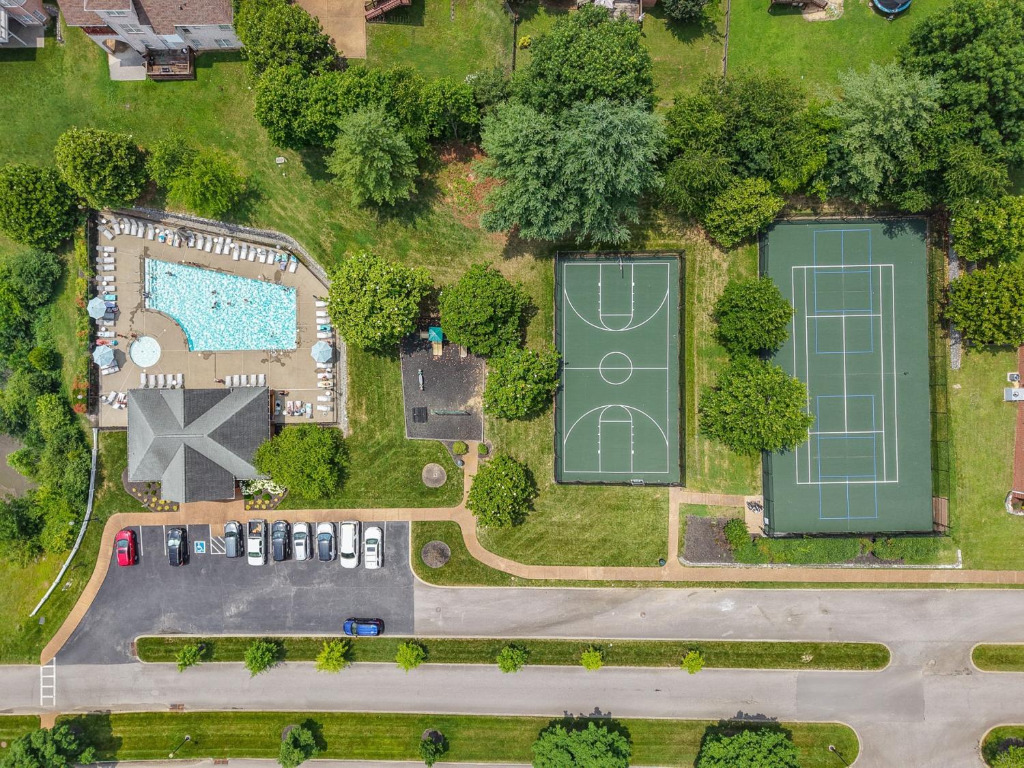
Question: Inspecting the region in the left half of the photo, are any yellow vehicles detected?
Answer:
No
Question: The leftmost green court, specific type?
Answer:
basketball court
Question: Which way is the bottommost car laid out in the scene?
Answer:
from side to side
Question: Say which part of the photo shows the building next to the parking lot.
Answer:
left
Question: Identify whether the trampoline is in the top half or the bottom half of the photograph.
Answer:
top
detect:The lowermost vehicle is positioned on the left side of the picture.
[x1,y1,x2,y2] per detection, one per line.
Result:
[344,616,386,638]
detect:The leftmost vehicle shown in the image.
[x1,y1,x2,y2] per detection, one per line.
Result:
[113,526,139,568]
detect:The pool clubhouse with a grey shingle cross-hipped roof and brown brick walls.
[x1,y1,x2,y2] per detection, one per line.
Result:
[127,388,274,504]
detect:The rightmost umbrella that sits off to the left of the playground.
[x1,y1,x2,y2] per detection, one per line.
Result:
[312,341,332,361]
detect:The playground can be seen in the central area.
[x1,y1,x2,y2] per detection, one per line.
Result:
[401,328,485,440]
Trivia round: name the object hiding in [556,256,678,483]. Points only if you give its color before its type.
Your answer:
green basketball court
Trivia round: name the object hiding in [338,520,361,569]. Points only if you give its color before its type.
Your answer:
white car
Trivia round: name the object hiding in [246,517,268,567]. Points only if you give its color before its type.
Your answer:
white truck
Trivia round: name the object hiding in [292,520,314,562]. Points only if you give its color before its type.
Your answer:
white car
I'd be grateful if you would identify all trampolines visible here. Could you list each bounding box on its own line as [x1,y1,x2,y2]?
[873,0,914,22]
